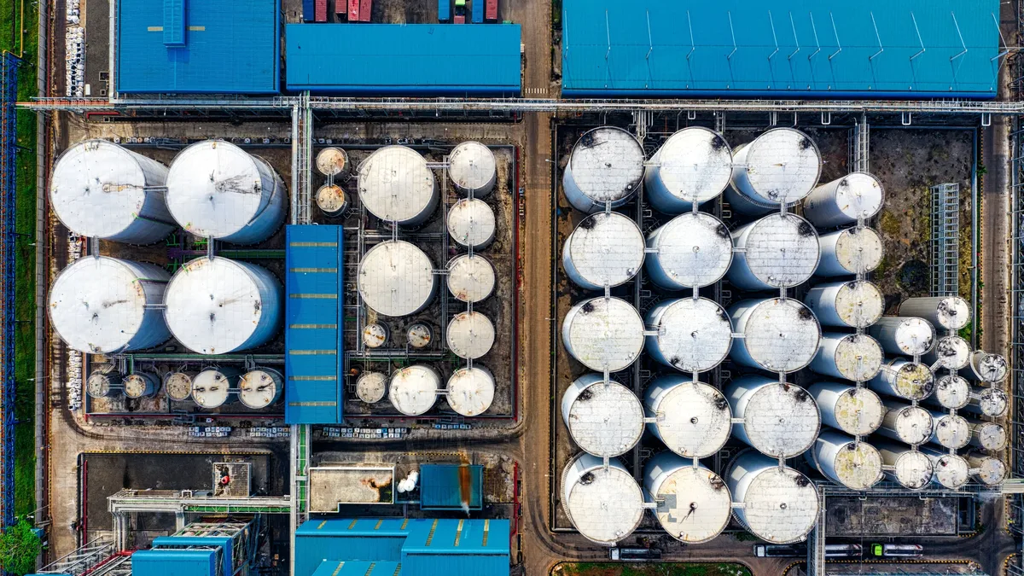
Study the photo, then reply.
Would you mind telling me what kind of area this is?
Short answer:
industrial area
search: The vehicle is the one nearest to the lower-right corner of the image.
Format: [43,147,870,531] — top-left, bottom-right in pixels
[868,542,924,557]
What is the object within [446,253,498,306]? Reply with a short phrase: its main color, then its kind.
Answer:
white storage tank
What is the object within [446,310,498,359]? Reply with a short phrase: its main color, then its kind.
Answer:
white storage tank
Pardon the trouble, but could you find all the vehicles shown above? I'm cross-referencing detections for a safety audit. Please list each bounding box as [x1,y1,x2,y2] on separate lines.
[608,546,661,561]
[868,542,924,557]
[806,543,864,558]
[752,543,807,558]
[455,0,467,23]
